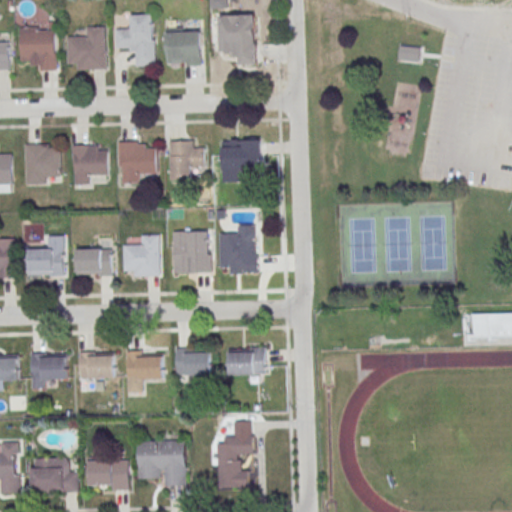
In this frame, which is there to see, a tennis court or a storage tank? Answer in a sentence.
I can see a tennis court in this picture.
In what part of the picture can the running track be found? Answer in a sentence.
The running track is in the bottom right part of the image.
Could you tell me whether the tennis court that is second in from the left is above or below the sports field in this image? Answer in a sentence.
The tennis court that is second in from the left appears above the sports field in the picture.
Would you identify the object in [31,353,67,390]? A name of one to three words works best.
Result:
house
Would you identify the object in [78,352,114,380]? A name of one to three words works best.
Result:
house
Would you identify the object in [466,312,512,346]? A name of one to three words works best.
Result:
building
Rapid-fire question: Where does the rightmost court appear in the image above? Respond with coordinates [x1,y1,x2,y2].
[420,216,448,272]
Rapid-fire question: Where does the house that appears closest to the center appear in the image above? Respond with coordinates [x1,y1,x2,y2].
[220,224,259,274]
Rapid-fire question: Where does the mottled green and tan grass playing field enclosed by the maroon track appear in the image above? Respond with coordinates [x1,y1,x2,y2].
[355,366,512,512]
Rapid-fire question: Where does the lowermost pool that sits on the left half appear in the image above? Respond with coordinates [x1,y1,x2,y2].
[44,430,77,448]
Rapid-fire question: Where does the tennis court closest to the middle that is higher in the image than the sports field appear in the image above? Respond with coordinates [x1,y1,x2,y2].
[348,218,378,274]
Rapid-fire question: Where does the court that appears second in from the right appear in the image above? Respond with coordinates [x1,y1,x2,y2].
[383,217,412,273]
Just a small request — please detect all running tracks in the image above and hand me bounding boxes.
[339,350,512,512]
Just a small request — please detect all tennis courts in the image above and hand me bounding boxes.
[348,218,378,274]
[383,217,412,273]
[420,216,448,272]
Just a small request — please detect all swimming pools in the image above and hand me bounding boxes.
[18,0,36,18]
[0,398,10,413]
[44,430,77,448]
[232,212,255,224]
